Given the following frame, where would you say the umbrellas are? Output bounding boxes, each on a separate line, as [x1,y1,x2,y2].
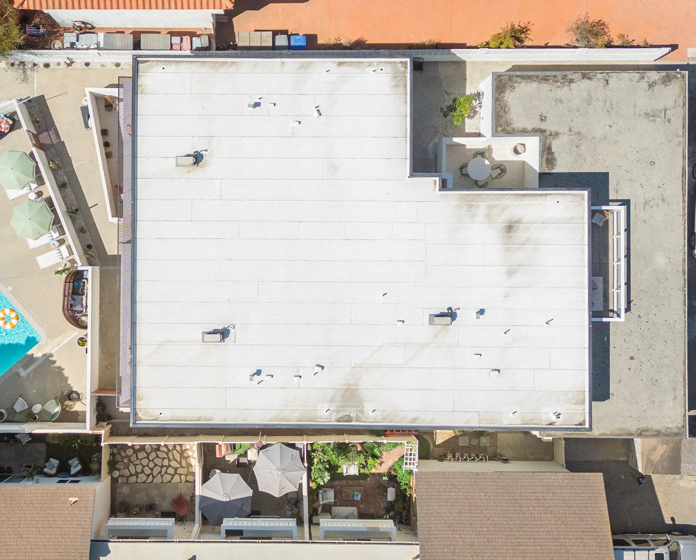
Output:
[200,472,254,523]
[11,195,54,240]
[253,442,302,497]
[0,147,37,191]
[253,440,264,450]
